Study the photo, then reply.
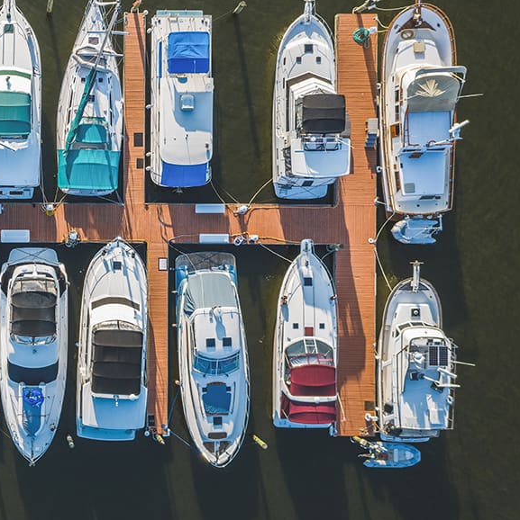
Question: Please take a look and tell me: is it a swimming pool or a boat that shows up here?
boat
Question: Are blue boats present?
Yes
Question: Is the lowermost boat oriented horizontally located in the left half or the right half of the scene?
right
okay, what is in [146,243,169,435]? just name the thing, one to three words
pier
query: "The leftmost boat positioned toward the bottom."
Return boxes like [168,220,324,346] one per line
[0,248,69,469]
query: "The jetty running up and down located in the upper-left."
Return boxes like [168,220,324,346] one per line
[122,11,146,203]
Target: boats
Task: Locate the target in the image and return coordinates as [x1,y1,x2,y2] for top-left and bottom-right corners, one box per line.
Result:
[0,248,69,469]
[0,0,43,198]
[56,0,138,197]
[378,0,483,215]
[271,238,345,429]
[150,10,214,195]
[391,216,443,246]
[358,441,422,470]
[175,252,251,471]
[270,0,352,198]
[372,261,475,443]
[77,235,149,441]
